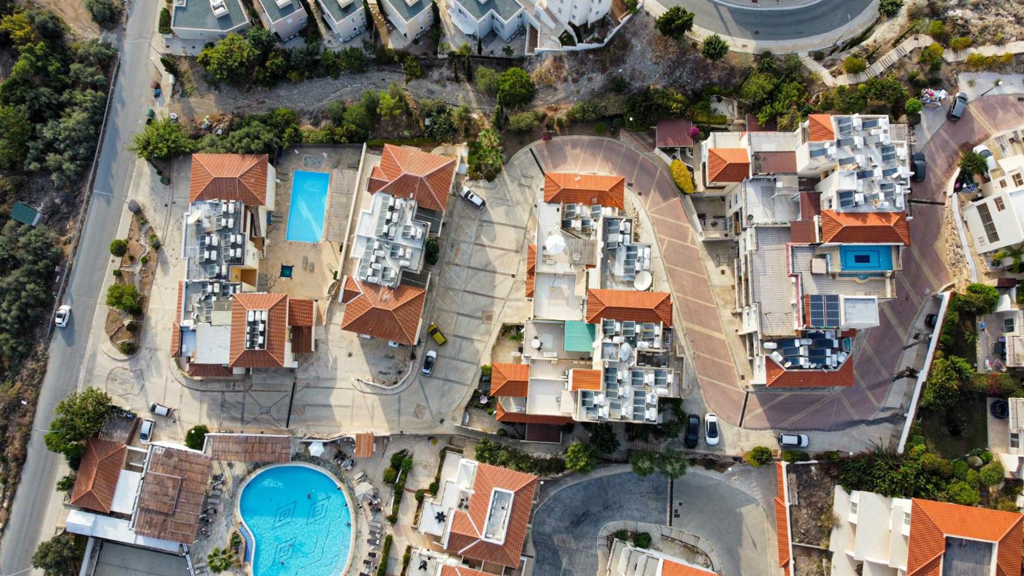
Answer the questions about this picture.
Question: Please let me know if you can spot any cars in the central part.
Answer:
Yes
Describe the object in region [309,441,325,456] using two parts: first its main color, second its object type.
white umbrella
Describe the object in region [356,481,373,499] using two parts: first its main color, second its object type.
white umbrella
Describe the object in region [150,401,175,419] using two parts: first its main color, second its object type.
white car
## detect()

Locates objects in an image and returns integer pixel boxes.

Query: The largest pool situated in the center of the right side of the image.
[838,244,896,273]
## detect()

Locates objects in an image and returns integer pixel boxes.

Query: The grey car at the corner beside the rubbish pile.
[947,91,969,121]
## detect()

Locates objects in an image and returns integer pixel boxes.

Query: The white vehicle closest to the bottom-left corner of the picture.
[137,415,157,447]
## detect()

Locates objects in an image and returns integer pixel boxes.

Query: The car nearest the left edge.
[54,303,72,329]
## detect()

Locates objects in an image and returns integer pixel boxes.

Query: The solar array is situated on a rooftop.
[811,295,839,327]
